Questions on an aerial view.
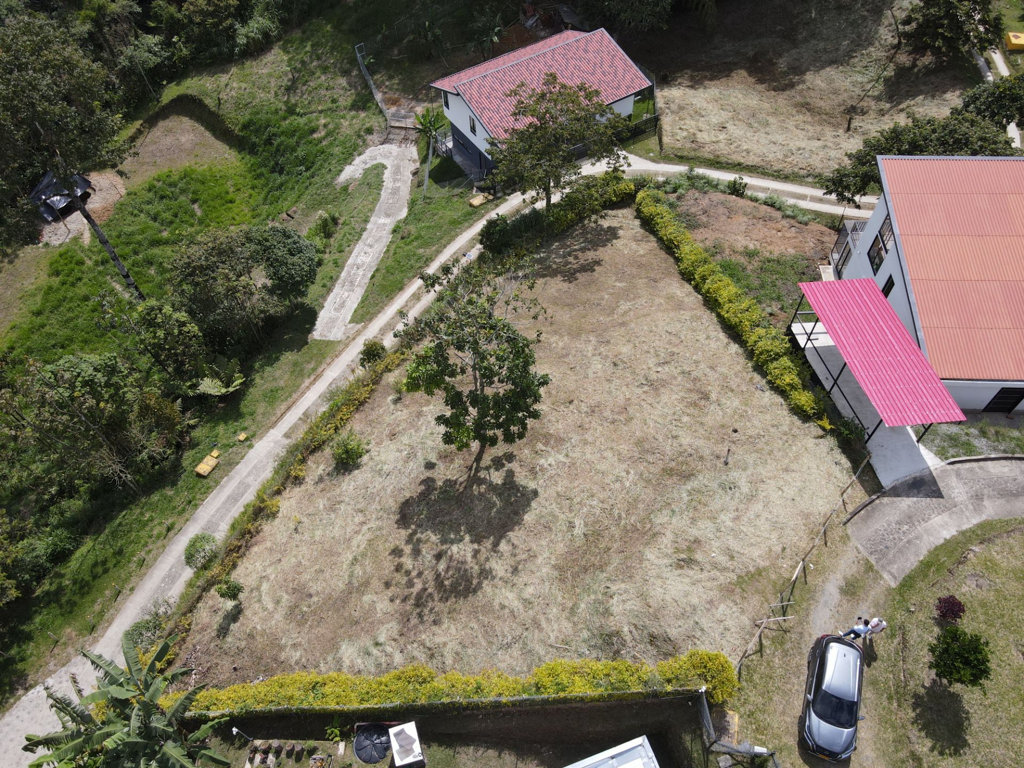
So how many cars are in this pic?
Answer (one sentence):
In total, there is 1 car in the scene.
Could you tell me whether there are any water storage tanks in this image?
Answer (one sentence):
Yes, a water storage tank can be made out from above.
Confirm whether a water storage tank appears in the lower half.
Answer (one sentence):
Yes, I can see a water storage tank in the lower half.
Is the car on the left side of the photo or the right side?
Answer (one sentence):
The car sits on the right side.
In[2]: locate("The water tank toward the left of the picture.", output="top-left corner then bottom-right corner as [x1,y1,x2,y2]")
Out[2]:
[351,727,392,767]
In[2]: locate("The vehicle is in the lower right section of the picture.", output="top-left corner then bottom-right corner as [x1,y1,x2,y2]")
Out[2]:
[800,637,866,764]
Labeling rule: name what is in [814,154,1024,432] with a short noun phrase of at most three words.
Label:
house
